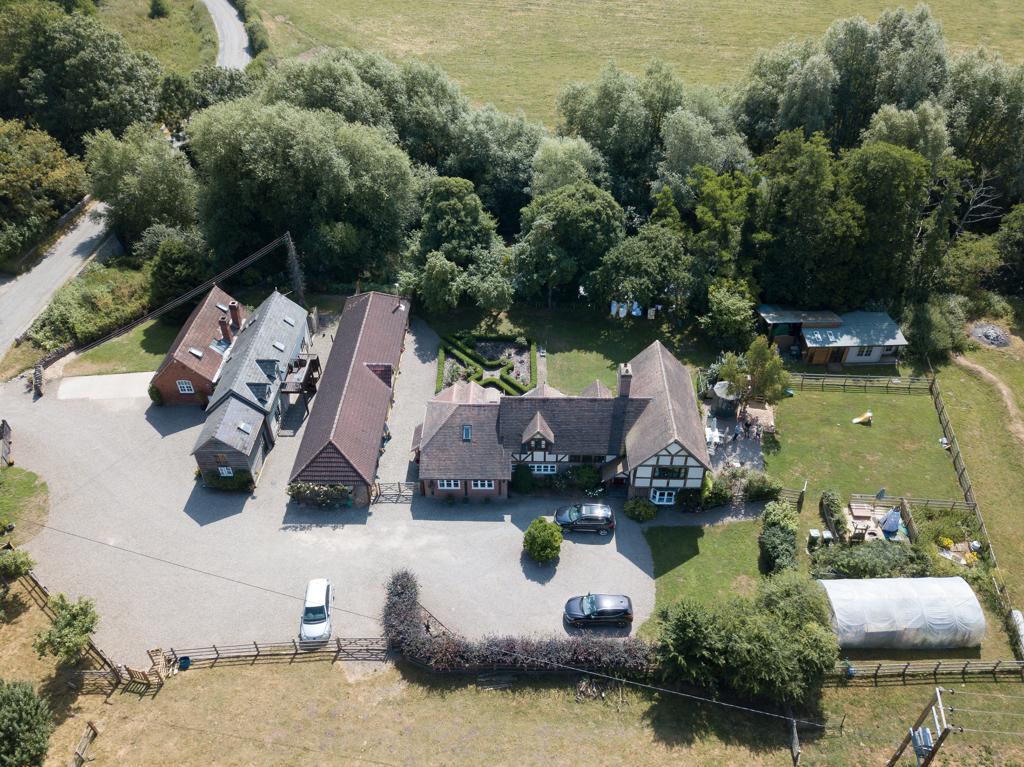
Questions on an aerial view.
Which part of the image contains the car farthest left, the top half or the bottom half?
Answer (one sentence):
The car farthest left is in the bottom half of the image.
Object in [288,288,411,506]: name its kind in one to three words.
barn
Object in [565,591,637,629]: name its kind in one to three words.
car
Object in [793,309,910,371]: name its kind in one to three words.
building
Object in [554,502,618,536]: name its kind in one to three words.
car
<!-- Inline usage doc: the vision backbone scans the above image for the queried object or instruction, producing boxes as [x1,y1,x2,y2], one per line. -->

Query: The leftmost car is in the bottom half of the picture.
[298,579,336,644]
